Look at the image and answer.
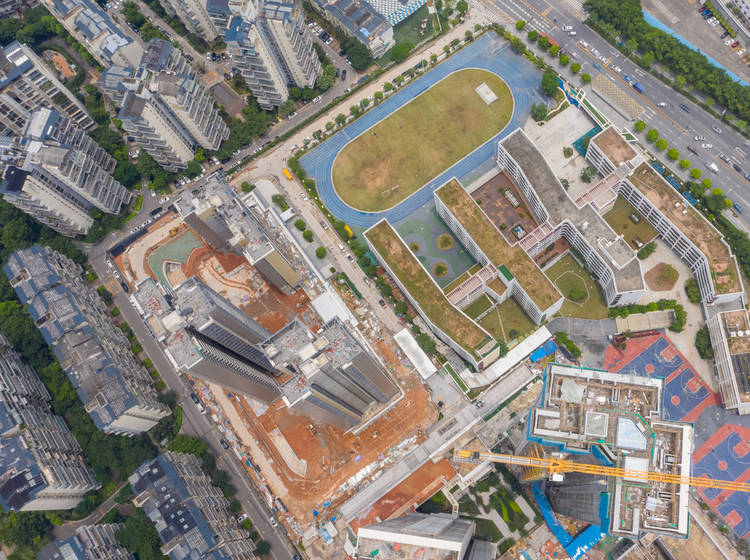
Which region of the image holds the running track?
top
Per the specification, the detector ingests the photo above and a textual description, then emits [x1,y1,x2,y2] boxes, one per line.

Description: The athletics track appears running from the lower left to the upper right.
[299,30,556,228]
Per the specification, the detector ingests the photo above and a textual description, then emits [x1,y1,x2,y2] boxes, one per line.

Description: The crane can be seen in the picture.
[452,446,750,492]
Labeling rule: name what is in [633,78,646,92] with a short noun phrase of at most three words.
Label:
vehicle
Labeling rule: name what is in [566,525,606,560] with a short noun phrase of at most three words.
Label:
shed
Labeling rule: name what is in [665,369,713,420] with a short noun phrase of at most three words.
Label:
basketball court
